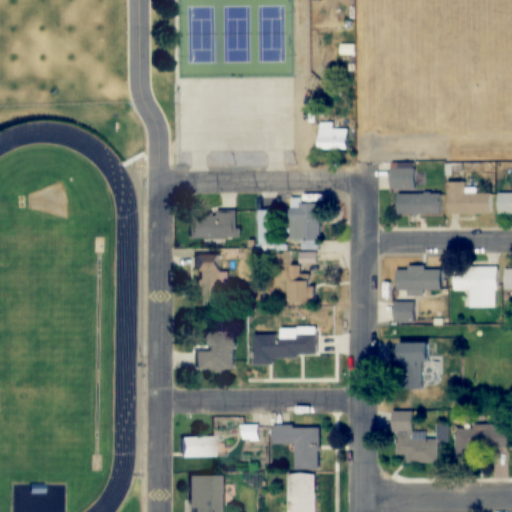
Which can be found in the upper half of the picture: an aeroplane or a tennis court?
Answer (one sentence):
Visible in the upper half of the picture is a tennis court.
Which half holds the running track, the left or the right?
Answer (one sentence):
The running track appears in the left half of the scene.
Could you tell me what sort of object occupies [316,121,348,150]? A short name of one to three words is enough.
house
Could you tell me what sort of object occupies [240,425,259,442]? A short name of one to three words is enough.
shed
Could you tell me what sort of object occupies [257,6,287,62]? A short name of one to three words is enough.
tennis court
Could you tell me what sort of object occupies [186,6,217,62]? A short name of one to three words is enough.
tennis court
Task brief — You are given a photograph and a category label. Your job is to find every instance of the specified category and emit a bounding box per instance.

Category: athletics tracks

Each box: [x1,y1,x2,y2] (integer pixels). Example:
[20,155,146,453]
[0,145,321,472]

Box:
[0,120,139,512]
